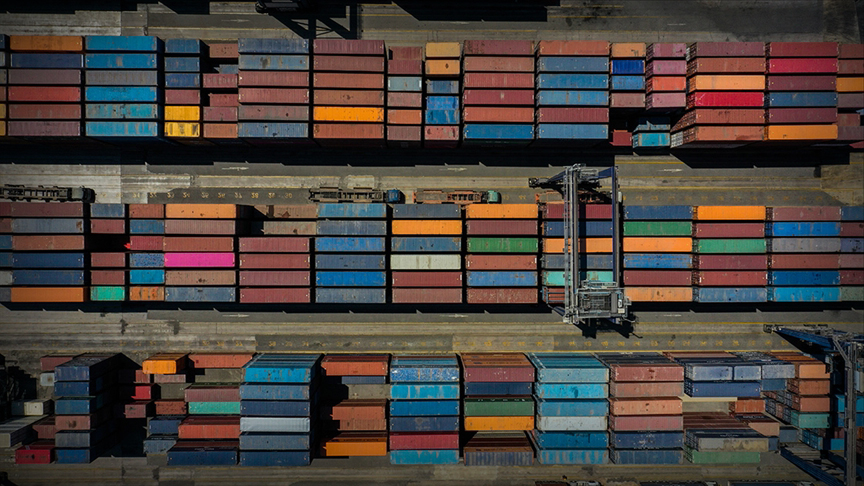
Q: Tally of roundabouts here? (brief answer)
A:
none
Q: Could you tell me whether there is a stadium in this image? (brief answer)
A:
No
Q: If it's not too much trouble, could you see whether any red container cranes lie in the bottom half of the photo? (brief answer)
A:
No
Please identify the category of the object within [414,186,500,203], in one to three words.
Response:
vehicle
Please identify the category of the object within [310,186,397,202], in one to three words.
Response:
vehicle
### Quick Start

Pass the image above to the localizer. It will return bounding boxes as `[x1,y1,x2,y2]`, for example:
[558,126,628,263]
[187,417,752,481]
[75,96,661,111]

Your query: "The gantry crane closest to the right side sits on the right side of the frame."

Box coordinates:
[759,323,864,486]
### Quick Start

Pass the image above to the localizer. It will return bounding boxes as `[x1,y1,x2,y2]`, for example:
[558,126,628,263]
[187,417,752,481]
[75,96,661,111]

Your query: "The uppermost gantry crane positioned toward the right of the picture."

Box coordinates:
[526,164,633,329]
